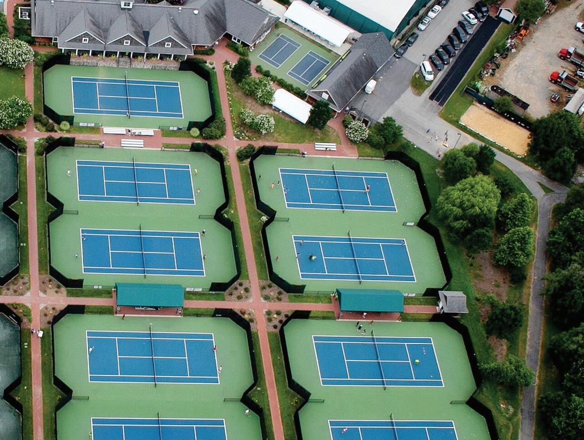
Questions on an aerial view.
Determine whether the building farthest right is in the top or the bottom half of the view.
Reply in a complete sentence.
It is in the top half that the building farthest right appears.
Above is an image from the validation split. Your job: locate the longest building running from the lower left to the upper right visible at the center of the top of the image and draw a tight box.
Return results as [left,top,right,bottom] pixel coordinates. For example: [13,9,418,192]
[303,34,396,122]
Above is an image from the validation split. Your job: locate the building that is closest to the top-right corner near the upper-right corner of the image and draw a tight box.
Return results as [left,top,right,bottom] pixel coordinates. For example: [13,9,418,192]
[497,0,525,25]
